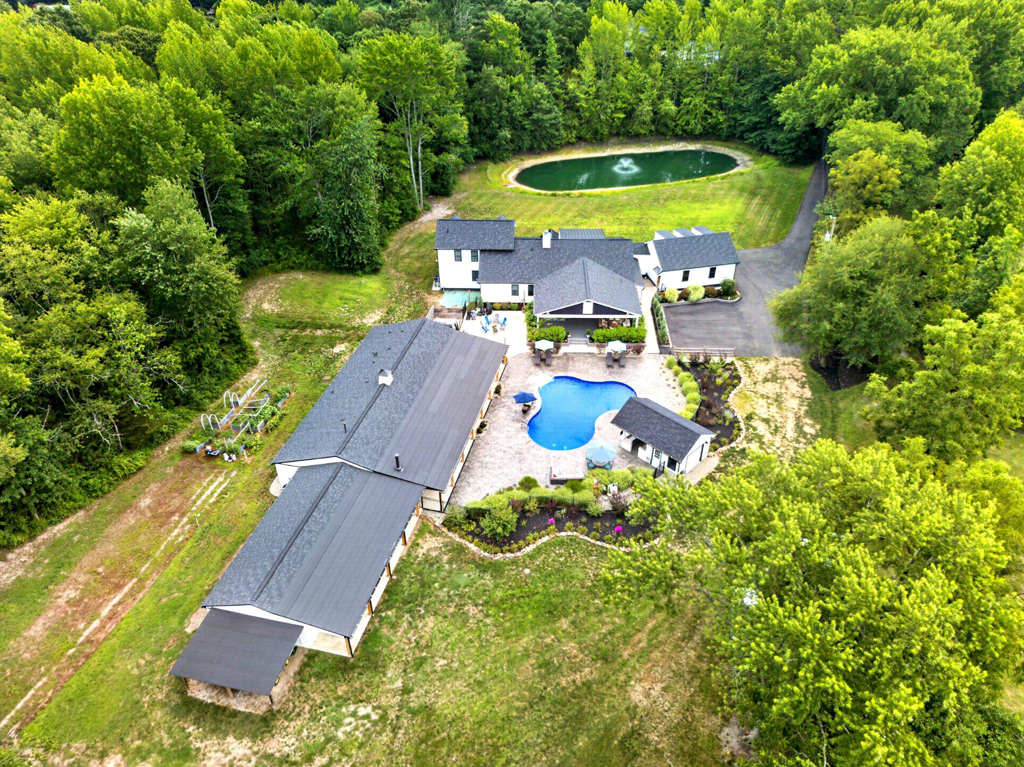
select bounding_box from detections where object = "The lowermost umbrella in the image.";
[586,439,620,463]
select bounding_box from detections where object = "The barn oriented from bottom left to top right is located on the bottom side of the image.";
[167,317,510,712]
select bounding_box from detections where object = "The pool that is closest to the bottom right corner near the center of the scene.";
[520,371,641,453]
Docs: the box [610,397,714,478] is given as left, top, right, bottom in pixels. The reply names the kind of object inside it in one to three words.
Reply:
building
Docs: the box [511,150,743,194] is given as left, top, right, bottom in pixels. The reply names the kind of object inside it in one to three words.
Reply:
pond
